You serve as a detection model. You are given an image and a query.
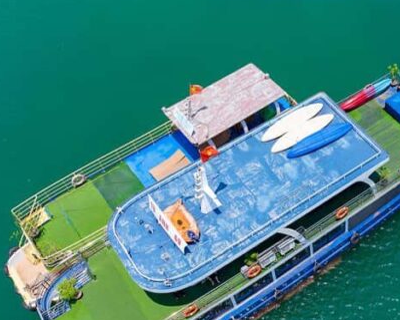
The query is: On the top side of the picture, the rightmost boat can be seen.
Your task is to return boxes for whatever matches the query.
[342,83,392,116]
